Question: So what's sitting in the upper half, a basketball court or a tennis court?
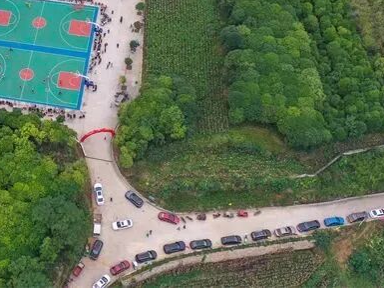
basketball court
